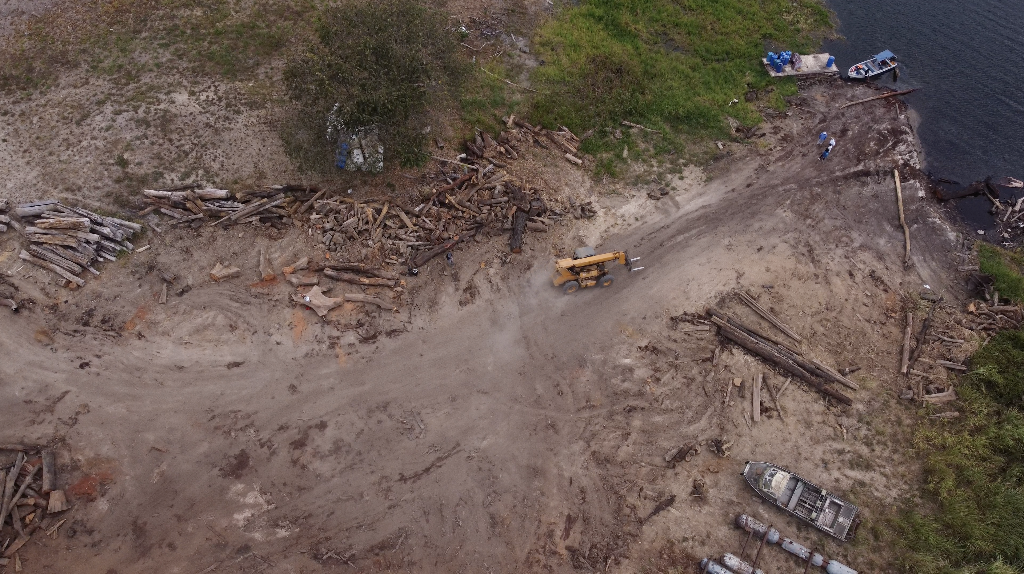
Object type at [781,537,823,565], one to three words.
storage tank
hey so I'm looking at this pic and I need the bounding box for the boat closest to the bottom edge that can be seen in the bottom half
[741,459,861,543]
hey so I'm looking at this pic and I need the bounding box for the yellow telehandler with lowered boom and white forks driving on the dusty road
[552,248,645,297]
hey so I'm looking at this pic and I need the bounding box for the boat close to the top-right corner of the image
[847,48,901,77]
